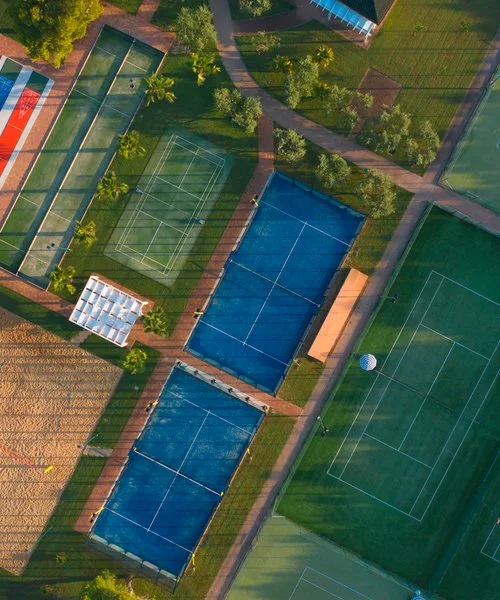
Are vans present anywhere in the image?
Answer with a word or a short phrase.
No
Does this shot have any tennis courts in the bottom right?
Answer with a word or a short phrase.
Yes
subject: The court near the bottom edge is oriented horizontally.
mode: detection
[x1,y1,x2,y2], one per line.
[236,517,447,600]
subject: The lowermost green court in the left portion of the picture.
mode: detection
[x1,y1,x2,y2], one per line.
[108,124,236,285]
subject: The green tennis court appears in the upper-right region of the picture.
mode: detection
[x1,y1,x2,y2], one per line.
[438,65,500,214]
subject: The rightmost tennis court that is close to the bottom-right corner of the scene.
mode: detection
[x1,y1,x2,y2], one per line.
[424,428,500,600]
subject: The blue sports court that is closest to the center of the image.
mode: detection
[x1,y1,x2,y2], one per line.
[183,169,367,394]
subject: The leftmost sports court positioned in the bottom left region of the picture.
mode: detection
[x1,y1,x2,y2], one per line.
[0,309,123,577]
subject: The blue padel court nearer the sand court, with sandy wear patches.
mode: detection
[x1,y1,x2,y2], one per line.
[87,359,270,584]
